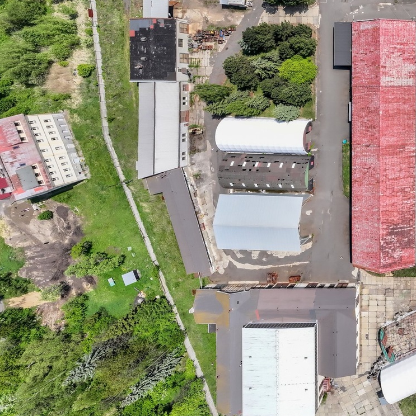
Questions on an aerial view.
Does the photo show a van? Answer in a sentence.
No, no van is visible in the scene.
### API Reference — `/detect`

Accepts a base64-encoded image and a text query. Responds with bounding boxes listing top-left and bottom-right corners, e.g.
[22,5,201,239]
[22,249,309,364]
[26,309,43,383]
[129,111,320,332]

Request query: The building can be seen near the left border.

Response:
[0,112,88,202]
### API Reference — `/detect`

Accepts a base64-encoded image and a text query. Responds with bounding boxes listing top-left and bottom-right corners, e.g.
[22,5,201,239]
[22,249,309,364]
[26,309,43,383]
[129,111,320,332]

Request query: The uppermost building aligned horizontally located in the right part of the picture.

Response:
[211,118,311,153]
